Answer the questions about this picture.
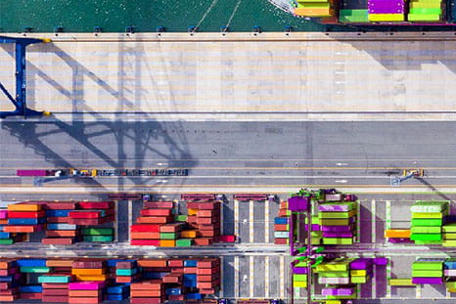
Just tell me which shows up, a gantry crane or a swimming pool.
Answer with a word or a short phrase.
gantry crane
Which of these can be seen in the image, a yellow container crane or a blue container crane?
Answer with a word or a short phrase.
blue container crane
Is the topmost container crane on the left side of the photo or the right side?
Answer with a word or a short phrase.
left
